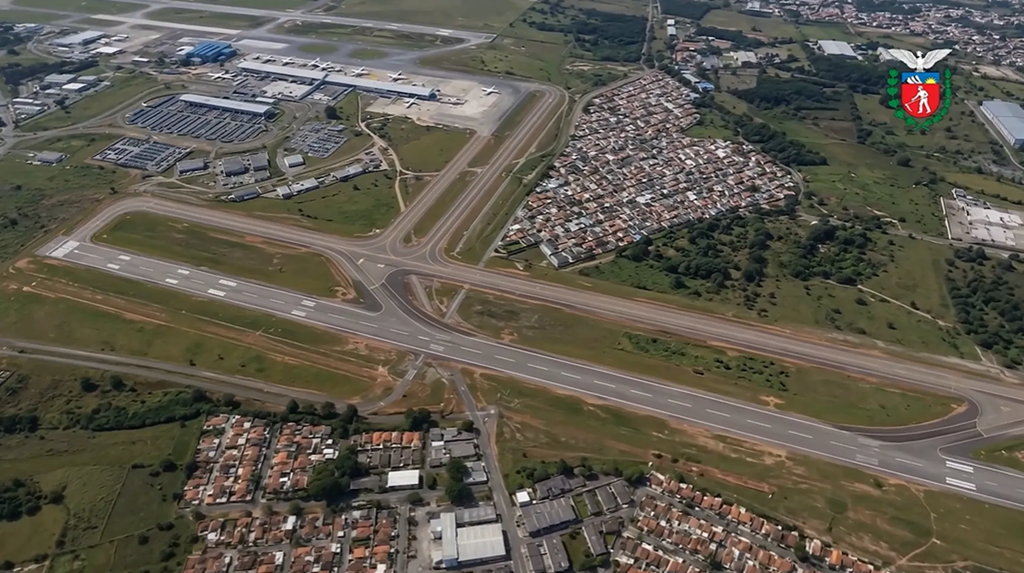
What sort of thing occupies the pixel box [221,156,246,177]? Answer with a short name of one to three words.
shed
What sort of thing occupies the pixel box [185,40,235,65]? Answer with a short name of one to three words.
hangar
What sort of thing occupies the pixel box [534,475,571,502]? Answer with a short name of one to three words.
building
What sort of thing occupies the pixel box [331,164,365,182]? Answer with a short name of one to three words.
shed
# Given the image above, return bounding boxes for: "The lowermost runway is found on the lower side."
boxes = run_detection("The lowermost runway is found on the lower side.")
[45,238,1024,511]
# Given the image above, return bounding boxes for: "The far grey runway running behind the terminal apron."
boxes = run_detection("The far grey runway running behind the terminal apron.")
[124,0,495,40]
